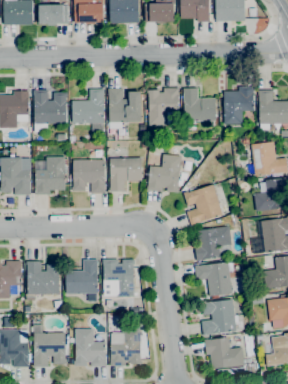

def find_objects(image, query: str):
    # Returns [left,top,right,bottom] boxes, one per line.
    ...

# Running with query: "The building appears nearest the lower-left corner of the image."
[0,329,29,366]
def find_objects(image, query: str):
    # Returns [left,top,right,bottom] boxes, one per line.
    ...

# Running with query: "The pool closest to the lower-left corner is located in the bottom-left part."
[45,317,66,330]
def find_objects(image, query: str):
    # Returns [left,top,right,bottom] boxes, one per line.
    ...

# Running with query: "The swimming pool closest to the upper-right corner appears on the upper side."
[180,146,202,160]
